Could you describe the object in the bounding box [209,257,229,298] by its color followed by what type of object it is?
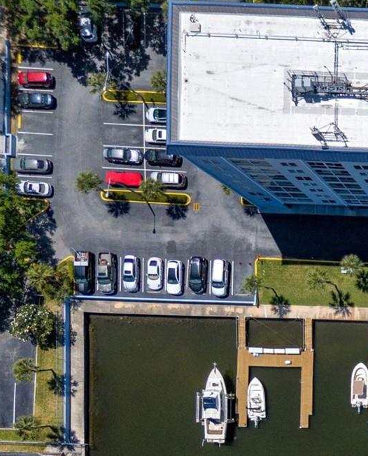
white car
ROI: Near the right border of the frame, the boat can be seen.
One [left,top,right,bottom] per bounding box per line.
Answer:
[351,359,368,413]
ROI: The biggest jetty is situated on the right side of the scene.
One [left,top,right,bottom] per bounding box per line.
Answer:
[236,348,314,429]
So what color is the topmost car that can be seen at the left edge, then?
red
